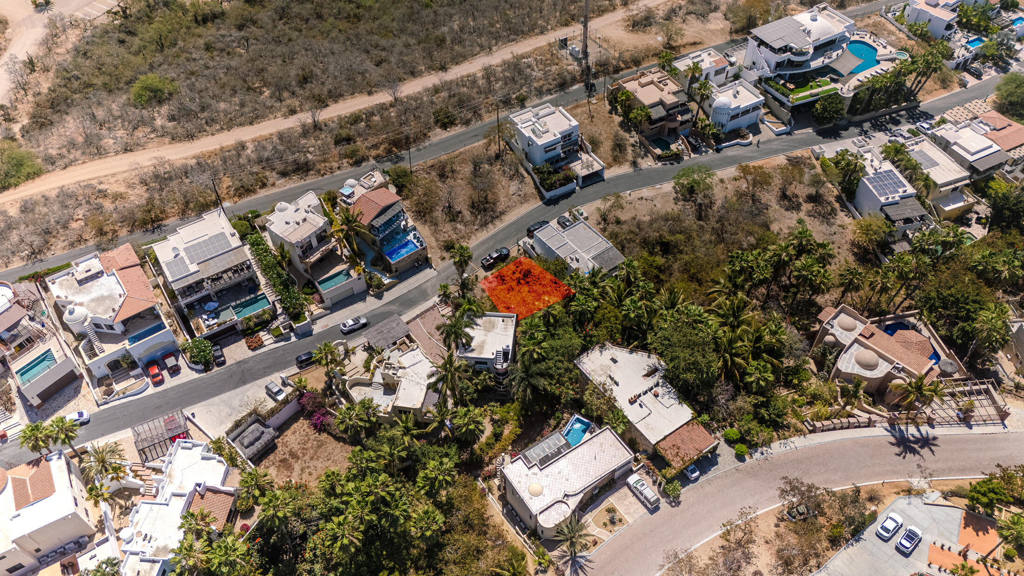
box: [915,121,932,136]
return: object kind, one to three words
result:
car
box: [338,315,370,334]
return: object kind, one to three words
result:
car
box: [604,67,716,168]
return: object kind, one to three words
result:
house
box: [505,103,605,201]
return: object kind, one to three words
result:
house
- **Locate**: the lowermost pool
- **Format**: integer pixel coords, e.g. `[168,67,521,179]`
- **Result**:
[561,413,593,448]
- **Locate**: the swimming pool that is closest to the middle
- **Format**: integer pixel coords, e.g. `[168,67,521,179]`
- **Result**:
[383,239,420,262]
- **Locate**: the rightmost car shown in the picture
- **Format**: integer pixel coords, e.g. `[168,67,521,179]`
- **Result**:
[962,65,984,79]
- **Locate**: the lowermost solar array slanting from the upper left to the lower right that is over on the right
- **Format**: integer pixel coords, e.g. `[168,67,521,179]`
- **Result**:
[910,149,939,169]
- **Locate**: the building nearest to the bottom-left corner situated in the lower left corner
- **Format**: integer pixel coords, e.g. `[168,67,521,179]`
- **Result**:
[0,449,126,576]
